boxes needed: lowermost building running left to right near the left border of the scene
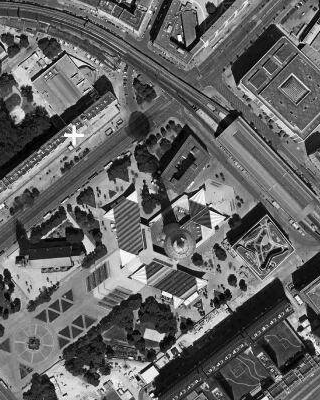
[15,245,86,274]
